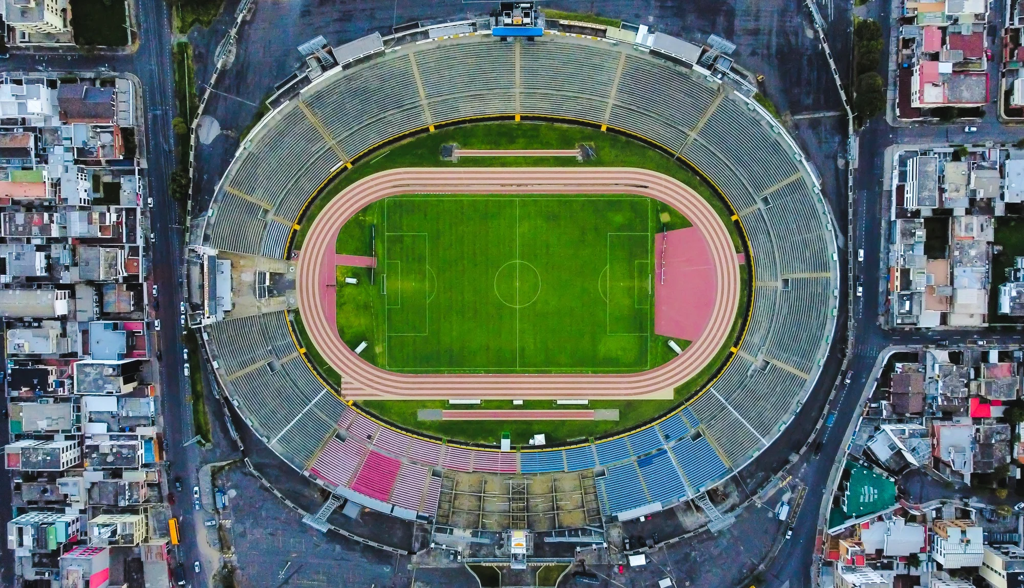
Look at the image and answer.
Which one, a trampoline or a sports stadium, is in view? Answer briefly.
sports stadium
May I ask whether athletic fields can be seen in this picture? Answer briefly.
Yes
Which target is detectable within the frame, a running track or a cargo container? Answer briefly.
running track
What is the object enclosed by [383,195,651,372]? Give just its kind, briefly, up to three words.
sports field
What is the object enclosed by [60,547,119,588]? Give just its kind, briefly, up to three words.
building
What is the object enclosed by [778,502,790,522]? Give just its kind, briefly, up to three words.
vehicle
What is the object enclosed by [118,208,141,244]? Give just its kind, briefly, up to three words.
house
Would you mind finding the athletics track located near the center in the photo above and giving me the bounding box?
[299,168,739,399]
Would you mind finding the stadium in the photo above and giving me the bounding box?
[199,31,839,547]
